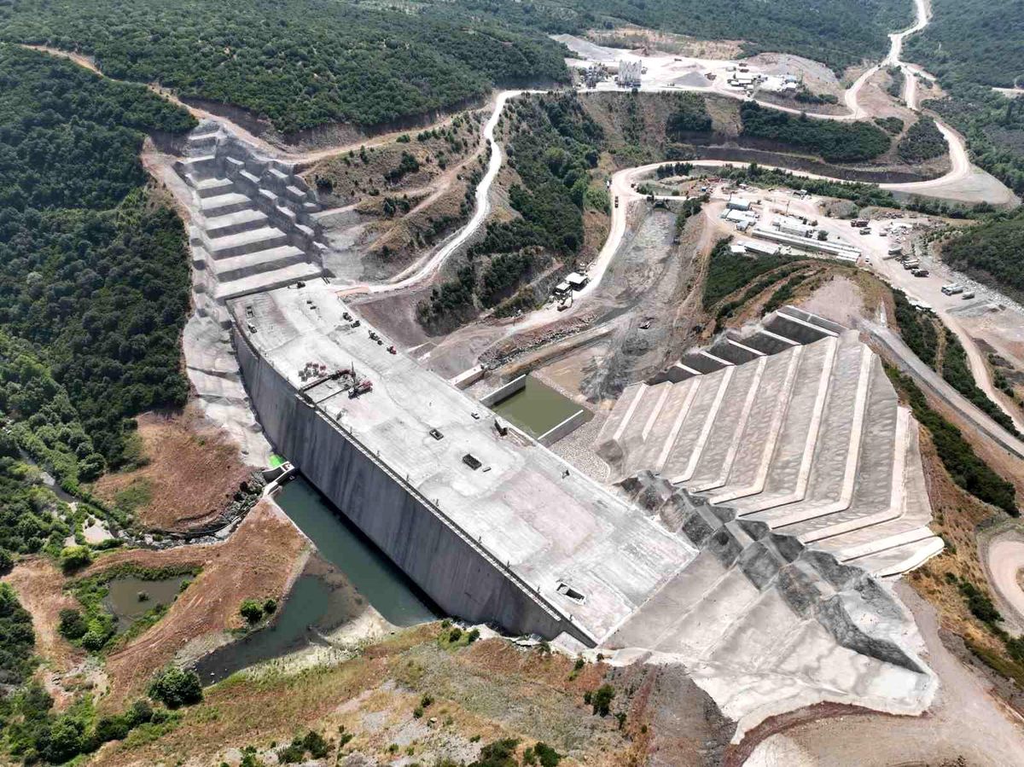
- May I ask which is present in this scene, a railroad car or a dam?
dam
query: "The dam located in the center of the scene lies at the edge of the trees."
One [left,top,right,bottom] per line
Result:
[224,277,697,648]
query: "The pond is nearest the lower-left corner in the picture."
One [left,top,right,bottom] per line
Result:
[104,574,193,631]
